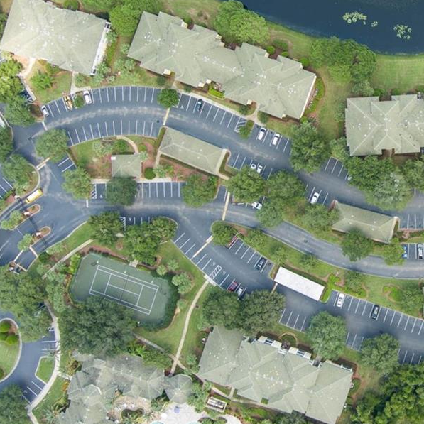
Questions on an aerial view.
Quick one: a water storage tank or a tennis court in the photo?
tennis court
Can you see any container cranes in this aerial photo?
No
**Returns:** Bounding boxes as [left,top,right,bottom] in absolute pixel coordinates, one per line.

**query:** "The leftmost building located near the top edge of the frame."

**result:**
[0,0,112,73]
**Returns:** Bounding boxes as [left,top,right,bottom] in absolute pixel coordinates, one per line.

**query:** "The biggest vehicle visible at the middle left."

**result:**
[26,189,44,203]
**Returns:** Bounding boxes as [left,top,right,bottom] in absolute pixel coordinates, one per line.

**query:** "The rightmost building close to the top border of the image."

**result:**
[128,11,316,119]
